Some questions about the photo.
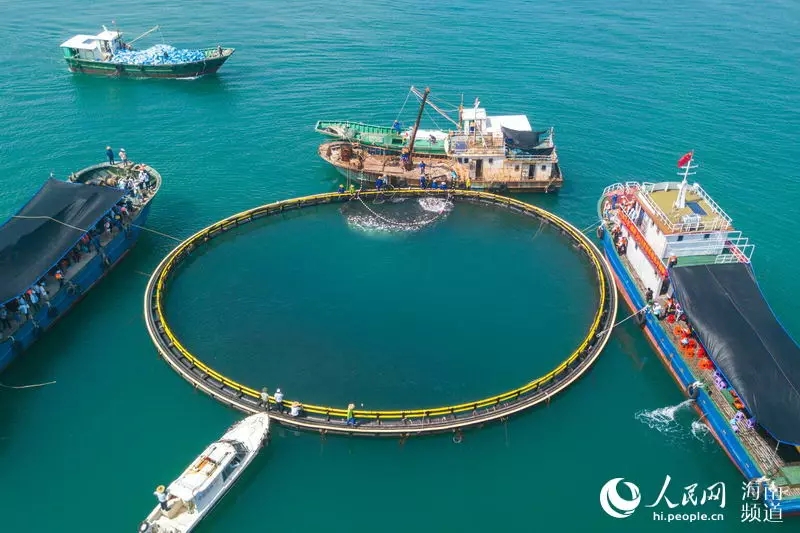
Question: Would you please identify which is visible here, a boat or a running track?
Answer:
boat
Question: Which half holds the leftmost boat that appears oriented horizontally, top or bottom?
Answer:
top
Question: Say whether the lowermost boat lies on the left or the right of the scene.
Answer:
left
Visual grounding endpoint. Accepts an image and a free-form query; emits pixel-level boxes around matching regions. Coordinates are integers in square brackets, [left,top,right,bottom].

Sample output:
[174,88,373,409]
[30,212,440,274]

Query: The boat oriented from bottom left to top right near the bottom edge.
[145,408,275,533]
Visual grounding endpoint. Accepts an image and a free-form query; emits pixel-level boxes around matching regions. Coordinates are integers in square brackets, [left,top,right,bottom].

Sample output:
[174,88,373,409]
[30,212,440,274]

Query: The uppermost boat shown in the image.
[55,12,238,80]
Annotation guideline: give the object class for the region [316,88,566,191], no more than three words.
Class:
boat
